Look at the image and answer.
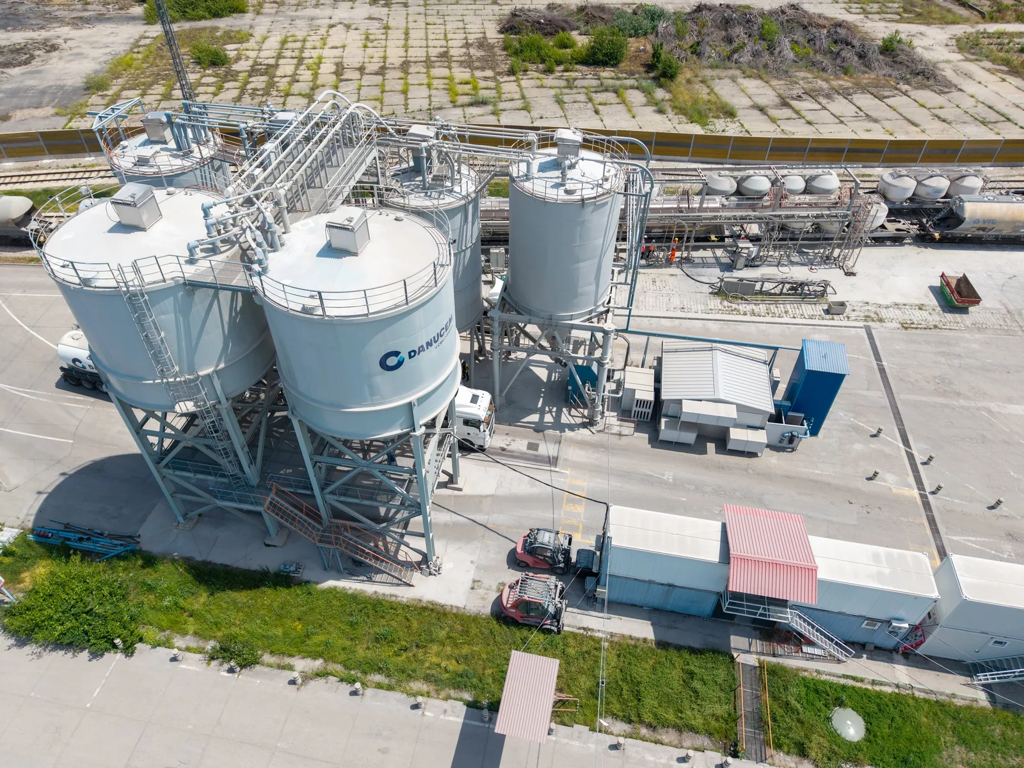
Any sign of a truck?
Yes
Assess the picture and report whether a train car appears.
Yes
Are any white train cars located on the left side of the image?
Yes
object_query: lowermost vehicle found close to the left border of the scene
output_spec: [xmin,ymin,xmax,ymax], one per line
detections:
[51,316,99,383]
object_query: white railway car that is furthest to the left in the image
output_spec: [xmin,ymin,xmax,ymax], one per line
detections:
[0,183,64,237]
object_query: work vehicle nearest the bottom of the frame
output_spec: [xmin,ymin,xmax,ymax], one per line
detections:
[503,576,585,631]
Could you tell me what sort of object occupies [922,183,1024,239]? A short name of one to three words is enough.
rail car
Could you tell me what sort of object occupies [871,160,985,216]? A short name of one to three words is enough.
rail car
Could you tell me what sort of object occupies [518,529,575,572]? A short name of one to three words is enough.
work vehicle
